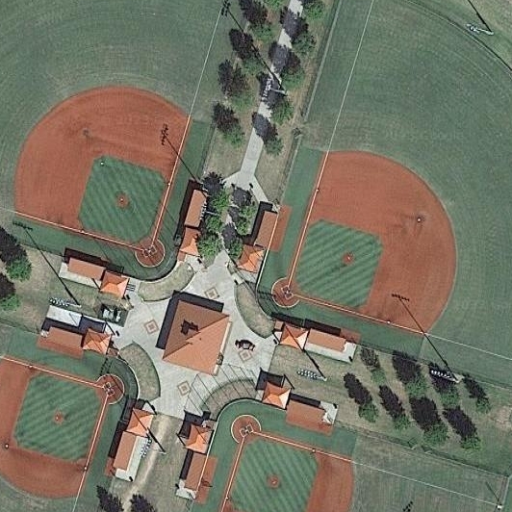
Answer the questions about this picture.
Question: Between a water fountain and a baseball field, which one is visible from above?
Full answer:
Looking from above, you can make out a baseball field.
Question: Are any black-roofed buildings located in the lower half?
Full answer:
No, in the lower half there is no black-roofed building.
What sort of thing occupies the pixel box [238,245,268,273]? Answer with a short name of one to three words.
building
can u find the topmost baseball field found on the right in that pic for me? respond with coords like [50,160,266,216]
[257,0,512,389]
